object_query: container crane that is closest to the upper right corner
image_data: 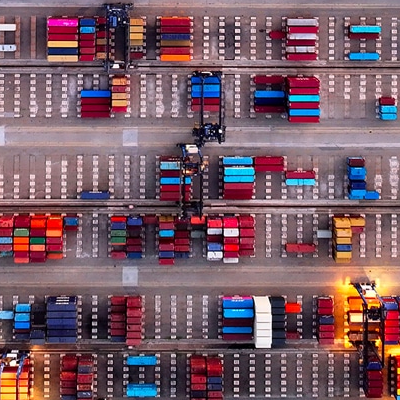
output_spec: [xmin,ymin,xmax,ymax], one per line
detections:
[188,65,226,143]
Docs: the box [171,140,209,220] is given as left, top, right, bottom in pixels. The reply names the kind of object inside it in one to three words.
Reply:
container crane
